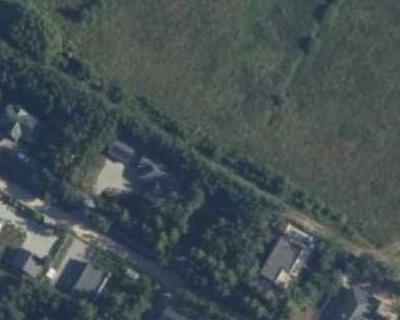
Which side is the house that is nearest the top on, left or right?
left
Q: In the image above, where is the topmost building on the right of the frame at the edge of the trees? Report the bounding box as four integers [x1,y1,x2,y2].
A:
[261,238,299,282]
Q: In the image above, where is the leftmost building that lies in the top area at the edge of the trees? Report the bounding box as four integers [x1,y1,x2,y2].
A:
[1,103,38,142]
